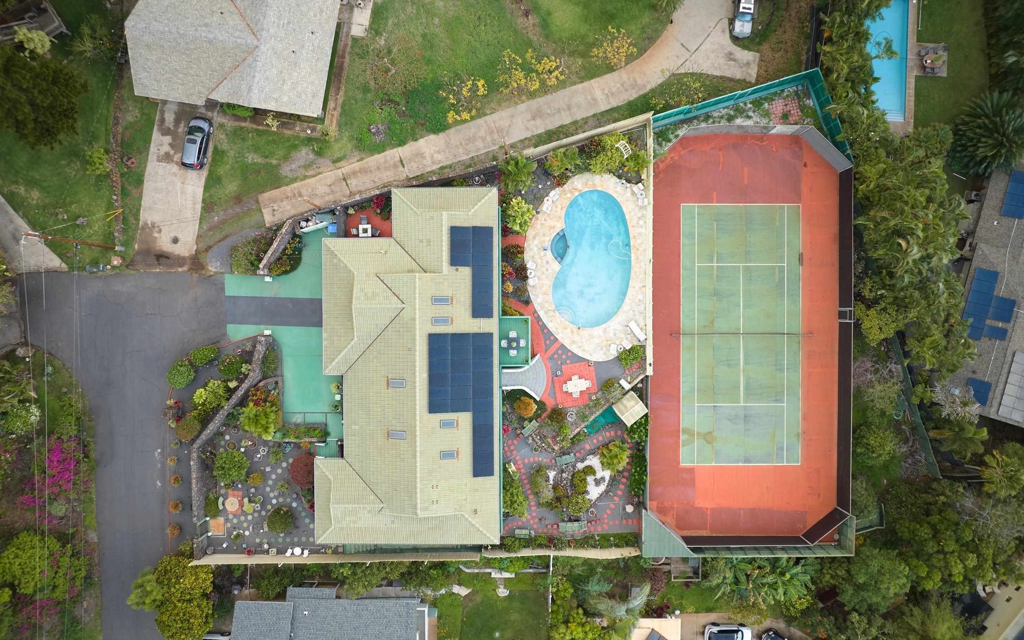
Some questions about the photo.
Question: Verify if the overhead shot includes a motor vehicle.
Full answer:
Yes, there's a motor vehicle down there.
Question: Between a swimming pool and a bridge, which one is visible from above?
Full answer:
This aerial view contains a swimming pool.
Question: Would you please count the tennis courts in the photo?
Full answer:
I count 1 tennis court.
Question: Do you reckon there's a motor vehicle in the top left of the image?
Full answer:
Yes, the scene does show a motor vehicle in the top left of the image.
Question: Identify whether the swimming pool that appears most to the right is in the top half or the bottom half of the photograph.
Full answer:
You can find the swimming pool that appears most to the right in the top half.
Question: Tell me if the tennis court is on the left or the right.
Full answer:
The tennis court sits on the right side.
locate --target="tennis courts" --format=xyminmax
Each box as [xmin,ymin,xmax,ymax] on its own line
[646,132,839,544]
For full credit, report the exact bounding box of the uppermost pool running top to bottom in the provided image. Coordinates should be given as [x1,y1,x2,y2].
[855,0,917,131]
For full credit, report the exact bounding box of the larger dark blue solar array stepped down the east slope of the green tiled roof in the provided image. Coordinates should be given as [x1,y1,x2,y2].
[429,332,493,478]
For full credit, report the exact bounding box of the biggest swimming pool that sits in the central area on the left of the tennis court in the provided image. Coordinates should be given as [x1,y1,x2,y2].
[524,174,646,361]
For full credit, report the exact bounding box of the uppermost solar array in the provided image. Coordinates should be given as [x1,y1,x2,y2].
[1001,170,1024,219]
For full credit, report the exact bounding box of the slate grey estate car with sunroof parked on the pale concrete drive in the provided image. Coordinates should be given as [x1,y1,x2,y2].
[178,116,209,169]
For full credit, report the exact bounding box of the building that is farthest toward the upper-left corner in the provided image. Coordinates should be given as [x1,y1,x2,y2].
[122,0,341,118]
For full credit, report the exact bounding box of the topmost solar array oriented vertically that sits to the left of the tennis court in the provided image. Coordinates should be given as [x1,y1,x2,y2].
[451,226,493,318]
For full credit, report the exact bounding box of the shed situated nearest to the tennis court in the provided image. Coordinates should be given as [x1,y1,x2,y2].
[643,511,691,556]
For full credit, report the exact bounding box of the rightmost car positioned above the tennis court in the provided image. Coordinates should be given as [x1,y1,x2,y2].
[732,0,761,33]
